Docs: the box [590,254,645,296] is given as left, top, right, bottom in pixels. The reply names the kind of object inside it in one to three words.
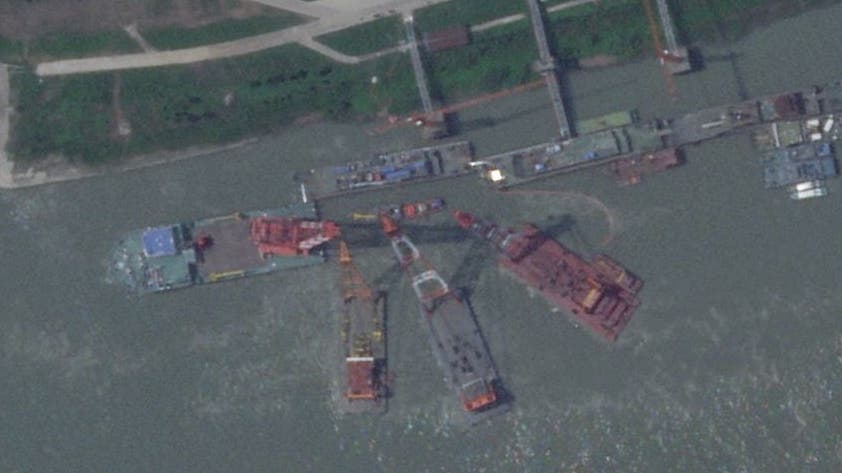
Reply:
ship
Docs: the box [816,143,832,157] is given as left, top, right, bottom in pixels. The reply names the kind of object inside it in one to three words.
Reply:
boat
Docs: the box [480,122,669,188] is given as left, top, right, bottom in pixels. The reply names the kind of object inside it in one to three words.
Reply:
pier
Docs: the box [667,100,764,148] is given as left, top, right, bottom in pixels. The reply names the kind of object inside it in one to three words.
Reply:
ship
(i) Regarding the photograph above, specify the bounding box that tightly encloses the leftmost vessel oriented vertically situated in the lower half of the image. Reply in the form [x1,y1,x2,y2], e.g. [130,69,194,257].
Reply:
[336,239,400,407]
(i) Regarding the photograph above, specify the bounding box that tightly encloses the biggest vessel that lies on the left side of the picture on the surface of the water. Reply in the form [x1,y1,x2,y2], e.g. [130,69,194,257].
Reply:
[112,192,372,291]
